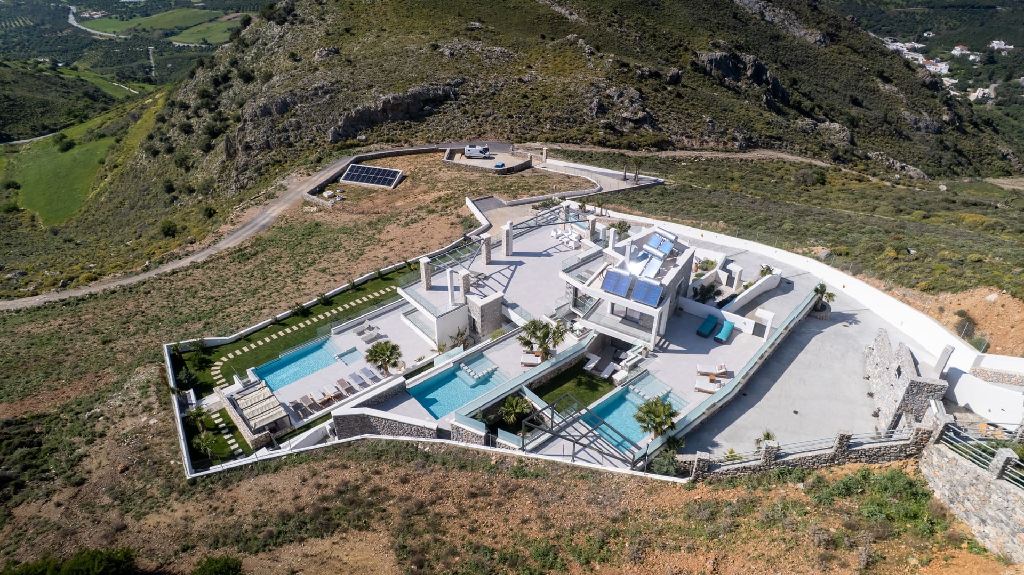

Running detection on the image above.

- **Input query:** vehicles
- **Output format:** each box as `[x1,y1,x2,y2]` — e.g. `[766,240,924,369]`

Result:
[463,144,492,160]
[494,159,506,169]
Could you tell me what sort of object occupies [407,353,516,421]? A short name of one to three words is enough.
swimming pool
